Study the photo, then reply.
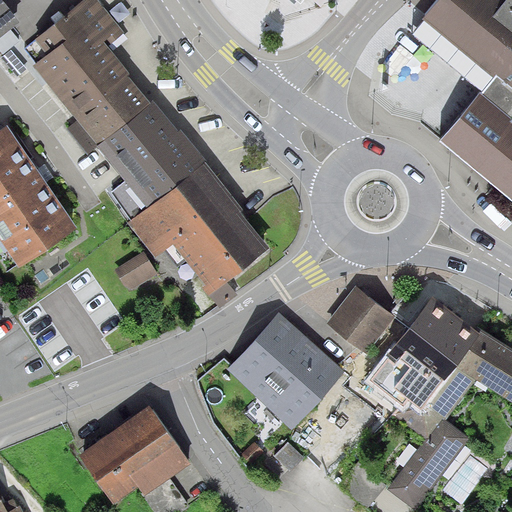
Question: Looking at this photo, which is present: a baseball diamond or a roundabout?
roundabout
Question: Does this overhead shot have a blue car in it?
Yes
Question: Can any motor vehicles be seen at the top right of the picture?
Yes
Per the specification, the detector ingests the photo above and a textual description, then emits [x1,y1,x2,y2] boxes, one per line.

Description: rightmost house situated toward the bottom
[458,332,512,402]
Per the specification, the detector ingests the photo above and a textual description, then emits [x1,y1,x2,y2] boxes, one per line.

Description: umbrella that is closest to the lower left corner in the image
[178,264,194,280]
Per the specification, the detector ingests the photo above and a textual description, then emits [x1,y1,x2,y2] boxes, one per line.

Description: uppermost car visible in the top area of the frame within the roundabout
[364,138,384,154]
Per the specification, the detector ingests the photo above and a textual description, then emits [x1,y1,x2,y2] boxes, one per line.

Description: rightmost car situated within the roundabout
[404,165,424,182]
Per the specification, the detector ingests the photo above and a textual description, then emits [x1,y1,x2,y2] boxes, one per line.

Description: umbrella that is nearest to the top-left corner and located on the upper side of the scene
[110,2,130,22]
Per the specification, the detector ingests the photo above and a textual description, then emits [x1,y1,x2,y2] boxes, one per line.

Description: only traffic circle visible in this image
[312,136,442,266]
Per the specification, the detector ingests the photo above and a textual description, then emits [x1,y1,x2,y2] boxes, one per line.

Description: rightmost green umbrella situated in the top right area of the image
[414,46,434,62]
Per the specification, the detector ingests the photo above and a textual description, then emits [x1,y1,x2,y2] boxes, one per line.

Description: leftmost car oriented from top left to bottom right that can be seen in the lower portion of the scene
[324,338,344,356]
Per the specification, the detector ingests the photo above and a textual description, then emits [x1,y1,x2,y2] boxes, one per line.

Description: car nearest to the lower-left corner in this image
[79,421,100,437]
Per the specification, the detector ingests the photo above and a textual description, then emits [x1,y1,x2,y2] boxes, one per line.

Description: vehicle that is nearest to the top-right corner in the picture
[394,28,419,50]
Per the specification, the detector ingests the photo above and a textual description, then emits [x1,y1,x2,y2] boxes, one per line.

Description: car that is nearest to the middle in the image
[245,192,264,210]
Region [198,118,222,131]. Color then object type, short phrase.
white vehicle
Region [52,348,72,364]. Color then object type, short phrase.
white car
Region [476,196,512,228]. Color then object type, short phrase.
white truck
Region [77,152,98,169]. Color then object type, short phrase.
white vehicle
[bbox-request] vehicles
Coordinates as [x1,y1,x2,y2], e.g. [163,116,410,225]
[324,338,344,356]
[30,316,52,334]
[176,97,199,110]
[79,421,100,437]
[22,308,42,324]
[244,113,262,132]
[52,348,72,364]
[364,138,384,154]
[447,259,467,271]
[86,294,106,310]
[100,317,118,334]
[234,48,258,72]
[178,38,194,56]
[476,196,512,228]
[24,359,44,374]
[284,148,302,167]
[36,328,56,344]
[240,162,260,172]
[404,165,424,182]
[157,78,182,89]
[245,192,264,210]
[0,321,15,338]
[198,118,222,131]
[90,163,110,179]
[77,152,98,169]
[472,230,494,248]
[326,402,341,424]
[72,272,91,290]
[394,28,419,50]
